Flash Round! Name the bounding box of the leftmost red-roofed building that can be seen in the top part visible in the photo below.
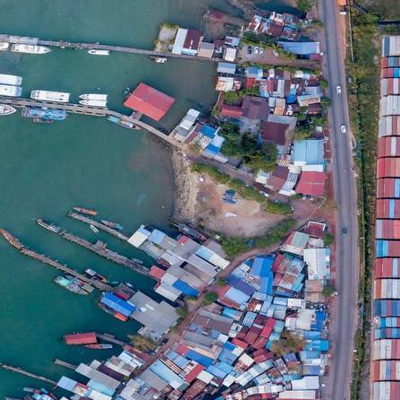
[127,82,173,125]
